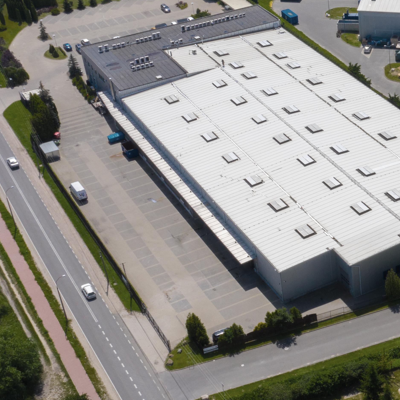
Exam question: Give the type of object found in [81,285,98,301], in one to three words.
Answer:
car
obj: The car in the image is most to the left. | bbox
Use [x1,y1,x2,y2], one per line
[6,157,21,169]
